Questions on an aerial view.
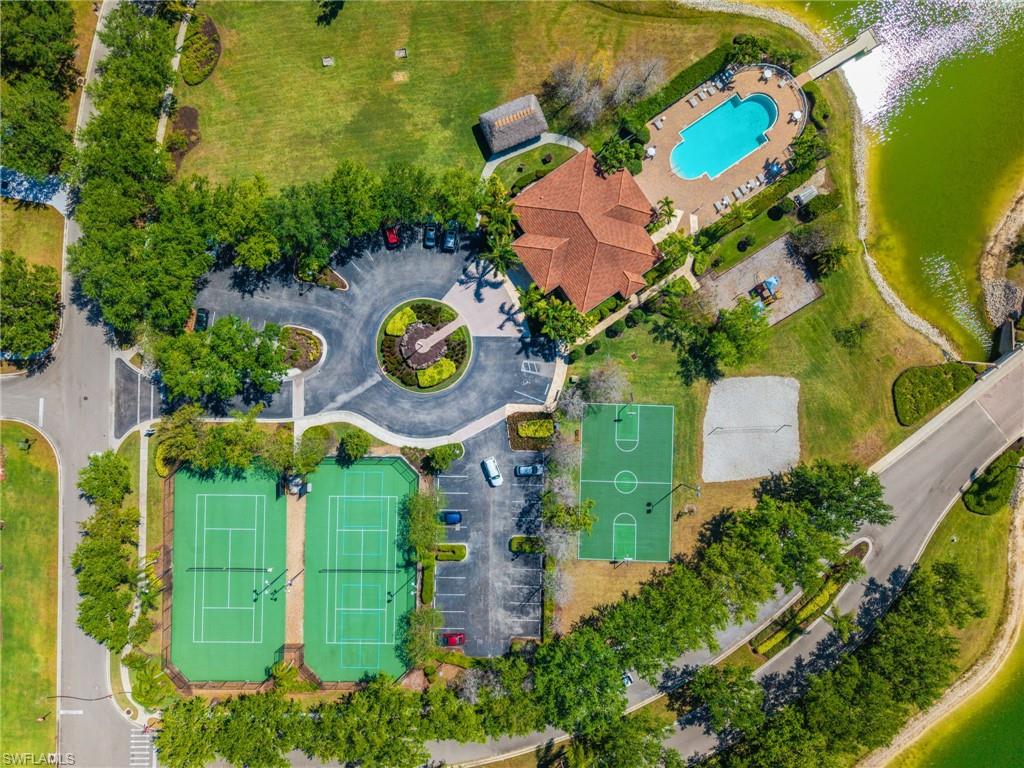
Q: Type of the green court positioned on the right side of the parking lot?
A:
basketball court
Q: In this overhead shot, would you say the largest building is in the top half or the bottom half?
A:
top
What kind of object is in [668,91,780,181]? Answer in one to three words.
swimming pool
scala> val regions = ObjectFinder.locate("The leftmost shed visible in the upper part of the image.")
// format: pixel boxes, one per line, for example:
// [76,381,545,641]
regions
[478,95,549,154]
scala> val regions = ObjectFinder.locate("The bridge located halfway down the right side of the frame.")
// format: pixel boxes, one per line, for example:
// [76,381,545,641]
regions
[959,323,1024,391]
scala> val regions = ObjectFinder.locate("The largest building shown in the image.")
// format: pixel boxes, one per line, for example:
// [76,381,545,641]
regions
[512,149,662,311]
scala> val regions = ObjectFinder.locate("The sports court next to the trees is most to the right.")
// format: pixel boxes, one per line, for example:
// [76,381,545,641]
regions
[702,376,800,483]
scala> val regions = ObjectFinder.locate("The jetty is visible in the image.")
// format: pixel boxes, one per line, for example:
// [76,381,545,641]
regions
[794,27,881,88]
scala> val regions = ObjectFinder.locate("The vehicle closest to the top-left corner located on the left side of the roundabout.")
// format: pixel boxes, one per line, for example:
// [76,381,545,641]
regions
[194,306,210,334]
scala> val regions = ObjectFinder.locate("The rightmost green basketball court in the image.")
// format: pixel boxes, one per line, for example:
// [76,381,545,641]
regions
[578,404,675,562]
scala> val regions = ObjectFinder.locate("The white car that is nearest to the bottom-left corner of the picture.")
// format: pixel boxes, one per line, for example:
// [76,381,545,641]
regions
[483,456,502,486]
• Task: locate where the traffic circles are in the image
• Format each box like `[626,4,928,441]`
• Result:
[377,298,472,393]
